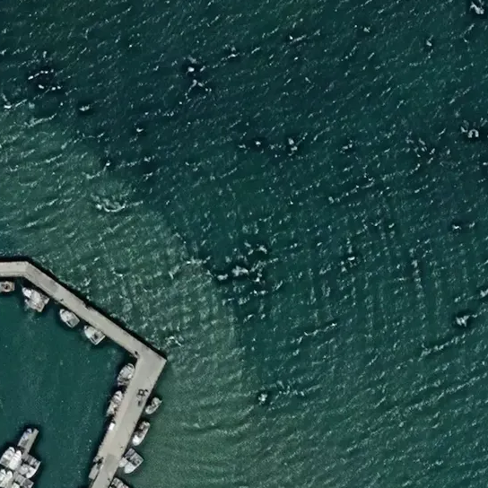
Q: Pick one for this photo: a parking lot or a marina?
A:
marina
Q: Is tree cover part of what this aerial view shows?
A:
No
